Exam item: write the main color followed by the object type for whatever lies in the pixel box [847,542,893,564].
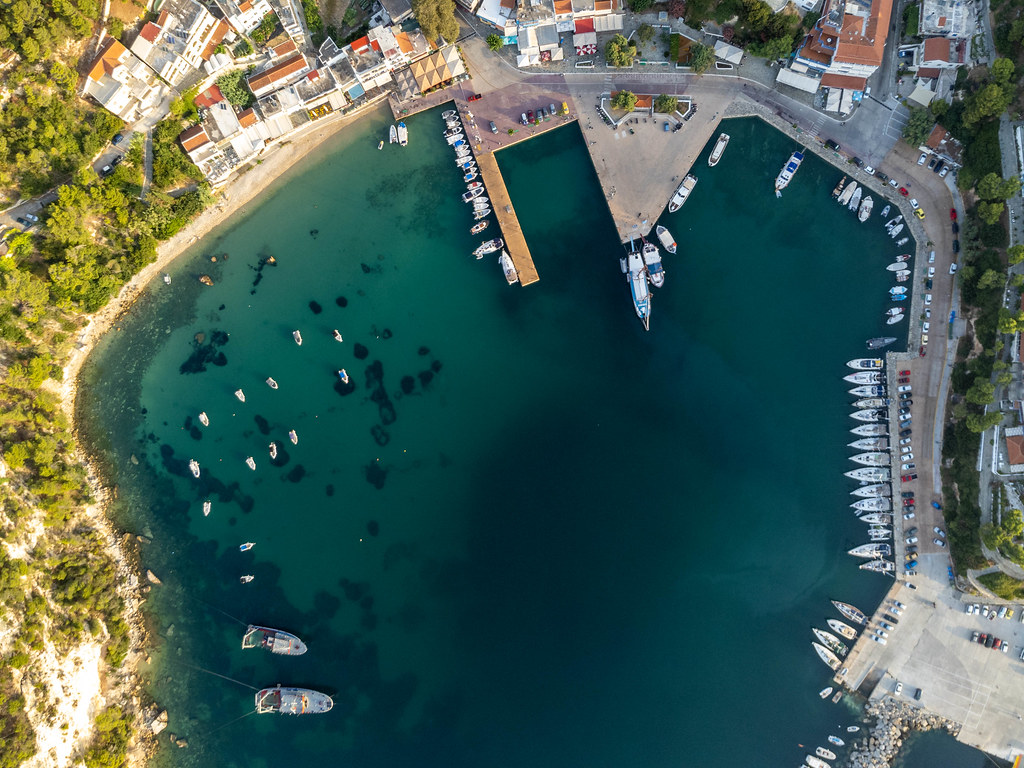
white boat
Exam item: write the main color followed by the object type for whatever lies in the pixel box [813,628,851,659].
white boat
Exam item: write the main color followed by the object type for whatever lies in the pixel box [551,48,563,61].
white umbrella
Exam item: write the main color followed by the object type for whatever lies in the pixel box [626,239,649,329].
white ship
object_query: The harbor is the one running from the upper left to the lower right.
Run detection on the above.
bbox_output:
[388,43,1024,763]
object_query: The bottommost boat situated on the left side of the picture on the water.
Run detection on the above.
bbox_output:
[256,686,333,716]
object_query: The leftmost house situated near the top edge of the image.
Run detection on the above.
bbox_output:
[82,32,178,126]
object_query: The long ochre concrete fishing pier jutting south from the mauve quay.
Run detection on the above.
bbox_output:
[476,151,539,286]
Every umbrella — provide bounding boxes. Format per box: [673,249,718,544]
[517,55,529,67]
[551,48,563,61]
[586,44,597,55]
[529,55,541,67]
[540,50,551,61]
[576,46,587,56]
[852,91,862,103]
